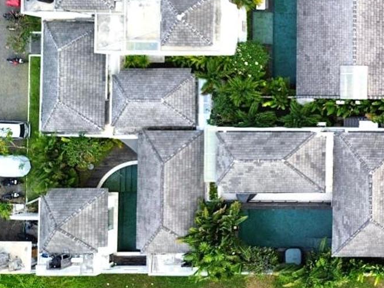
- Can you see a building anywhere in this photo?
Yes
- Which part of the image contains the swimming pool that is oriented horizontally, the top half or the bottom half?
bottom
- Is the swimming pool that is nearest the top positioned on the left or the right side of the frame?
right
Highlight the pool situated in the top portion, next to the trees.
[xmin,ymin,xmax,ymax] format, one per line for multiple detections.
[252,0,296,89]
